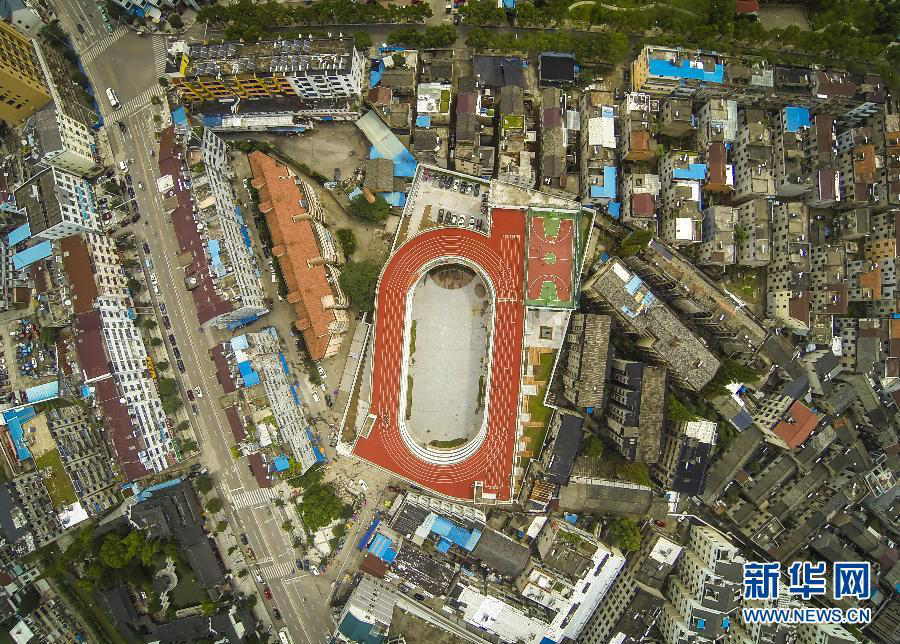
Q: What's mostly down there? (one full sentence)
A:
The bulk of the photo consists of buildings.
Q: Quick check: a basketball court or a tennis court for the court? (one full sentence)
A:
The court can be classified as a basketball court.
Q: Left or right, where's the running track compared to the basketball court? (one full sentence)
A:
The running track is to the left of the basketball court.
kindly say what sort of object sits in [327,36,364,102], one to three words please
building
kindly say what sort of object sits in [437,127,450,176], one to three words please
house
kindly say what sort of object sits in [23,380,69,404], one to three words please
shed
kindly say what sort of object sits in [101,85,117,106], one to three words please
vehicle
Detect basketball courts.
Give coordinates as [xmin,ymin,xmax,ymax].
[525,206,584,309]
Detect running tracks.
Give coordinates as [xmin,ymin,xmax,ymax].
[354,209,530,500]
